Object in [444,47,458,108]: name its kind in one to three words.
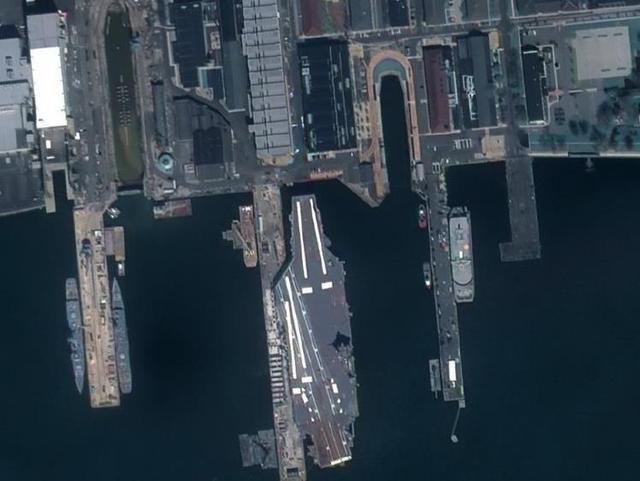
building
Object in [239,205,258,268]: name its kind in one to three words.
ship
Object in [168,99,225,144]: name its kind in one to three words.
building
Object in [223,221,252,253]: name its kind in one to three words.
ship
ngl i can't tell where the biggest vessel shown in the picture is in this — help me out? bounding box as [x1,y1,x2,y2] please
[273,194,359,469]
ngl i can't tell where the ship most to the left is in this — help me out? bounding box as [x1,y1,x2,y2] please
[66,279,84,393]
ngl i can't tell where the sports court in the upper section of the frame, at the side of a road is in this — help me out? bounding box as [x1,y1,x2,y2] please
[576,26,632,80]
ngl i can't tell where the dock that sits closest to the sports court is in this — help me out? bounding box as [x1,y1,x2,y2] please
[499,157,541,263]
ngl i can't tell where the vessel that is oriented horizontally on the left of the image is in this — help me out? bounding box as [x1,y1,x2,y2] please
[153,200,191,219]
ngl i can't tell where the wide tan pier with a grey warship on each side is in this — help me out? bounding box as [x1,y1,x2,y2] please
[75,207,119,408]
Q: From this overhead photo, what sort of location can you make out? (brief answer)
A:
port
